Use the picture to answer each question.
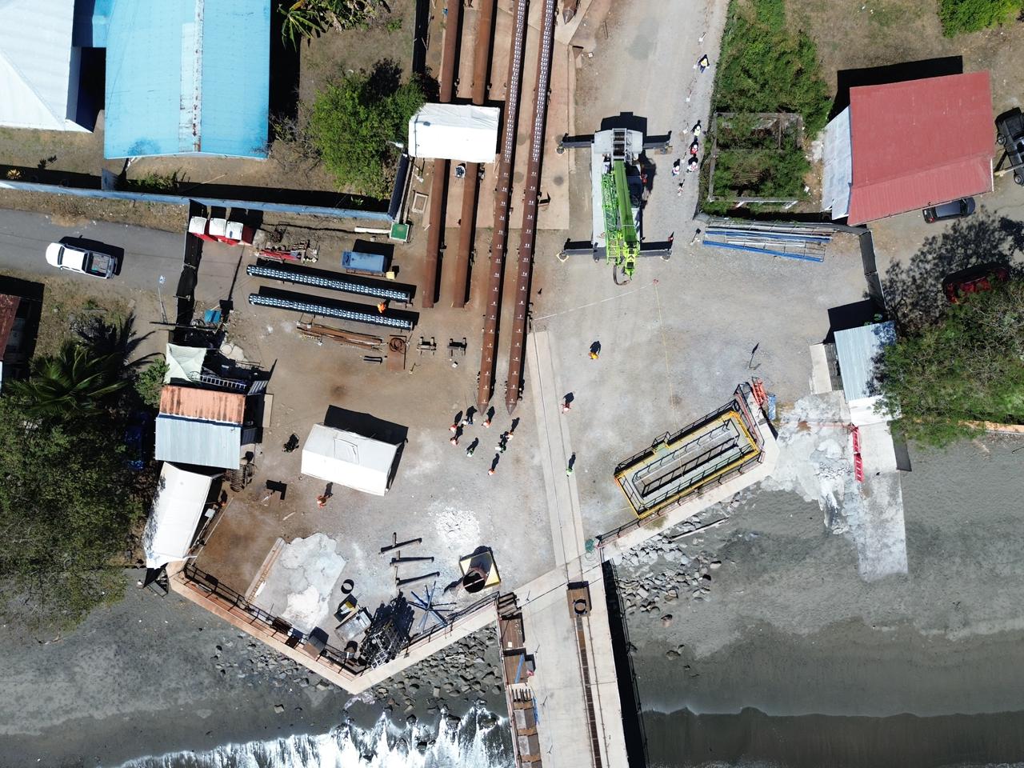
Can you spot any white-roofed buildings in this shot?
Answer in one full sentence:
Yes, a white-roofed building can be made out from above.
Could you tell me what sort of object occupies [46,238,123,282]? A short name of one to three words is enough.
truck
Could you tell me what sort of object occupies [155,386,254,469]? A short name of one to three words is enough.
shed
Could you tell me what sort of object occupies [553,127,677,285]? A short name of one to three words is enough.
crane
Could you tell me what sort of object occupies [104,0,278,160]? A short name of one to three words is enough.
house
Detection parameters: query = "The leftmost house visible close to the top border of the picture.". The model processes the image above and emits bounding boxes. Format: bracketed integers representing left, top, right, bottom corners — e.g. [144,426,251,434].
[0,0,94,133]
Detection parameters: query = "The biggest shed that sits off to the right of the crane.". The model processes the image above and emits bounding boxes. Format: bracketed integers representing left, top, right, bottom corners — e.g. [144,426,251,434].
[825,71,995,230]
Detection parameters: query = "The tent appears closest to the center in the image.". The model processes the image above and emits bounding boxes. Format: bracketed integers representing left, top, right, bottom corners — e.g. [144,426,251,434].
[302,423,401,495]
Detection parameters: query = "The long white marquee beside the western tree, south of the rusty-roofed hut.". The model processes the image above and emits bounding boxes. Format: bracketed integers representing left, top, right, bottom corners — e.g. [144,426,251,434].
[145,461,227,569]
